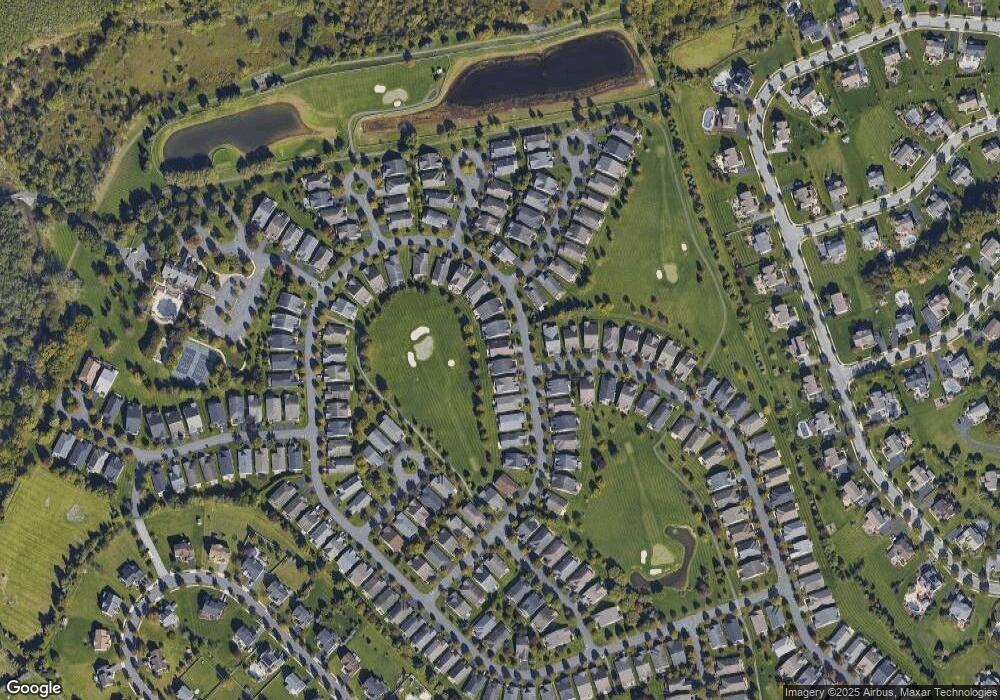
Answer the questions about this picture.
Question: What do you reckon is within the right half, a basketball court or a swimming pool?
swimming pool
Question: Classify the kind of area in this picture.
residential area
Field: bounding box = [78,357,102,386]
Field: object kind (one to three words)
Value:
barn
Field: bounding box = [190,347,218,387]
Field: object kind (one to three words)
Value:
tennis court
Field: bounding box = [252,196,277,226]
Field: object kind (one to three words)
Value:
house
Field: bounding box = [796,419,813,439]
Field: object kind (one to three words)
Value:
swimming pool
